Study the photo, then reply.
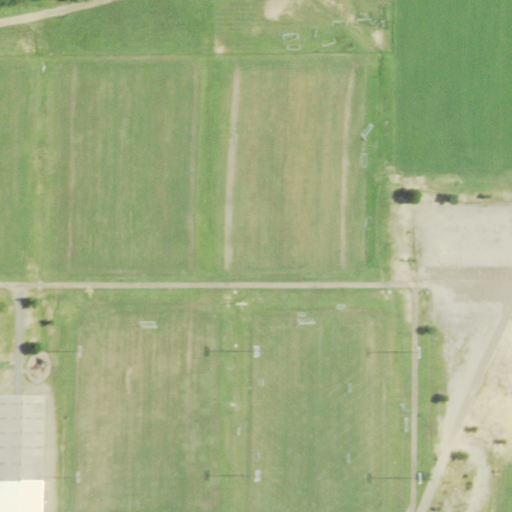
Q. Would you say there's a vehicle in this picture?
No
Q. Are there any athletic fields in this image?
Yes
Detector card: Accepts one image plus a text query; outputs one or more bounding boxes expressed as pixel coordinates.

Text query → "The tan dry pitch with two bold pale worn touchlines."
[222,62,357,278]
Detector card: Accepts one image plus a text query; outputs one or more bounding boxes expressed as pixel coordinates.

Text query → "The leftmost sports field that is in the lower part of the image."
[76,306,221,512]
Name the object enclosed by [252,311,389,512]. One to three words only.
sports field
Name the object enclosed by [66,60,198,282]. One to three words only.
sports field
